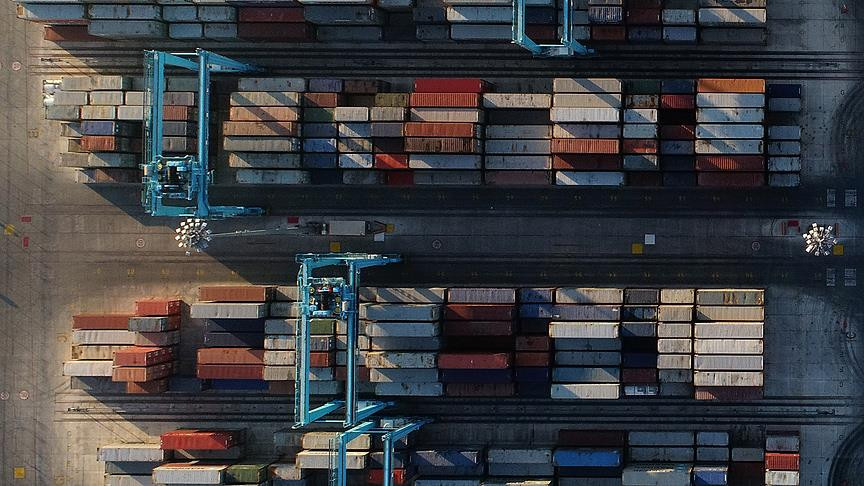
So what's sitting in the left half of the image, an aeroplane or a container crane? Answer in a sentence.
There is a container crane in the left half of the image.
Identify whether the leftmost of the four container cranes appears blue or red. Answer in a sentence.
The color of the leftmost of the four container cranes is blue.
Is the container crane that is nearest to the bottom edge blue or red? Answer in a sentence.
The container crane that is nearest to the bottom edge looks blue in the image.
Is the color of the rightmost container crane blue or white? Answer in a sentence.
From above, the rightmost container crane appears blue.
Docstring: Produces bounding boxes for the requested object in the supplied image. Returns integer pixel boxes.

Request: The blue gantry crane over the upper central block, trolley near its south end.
[136,46,267,217]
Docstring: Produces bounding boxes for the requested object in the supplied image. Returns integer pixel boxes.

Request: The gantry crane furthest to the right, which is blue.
[509,0,597,57]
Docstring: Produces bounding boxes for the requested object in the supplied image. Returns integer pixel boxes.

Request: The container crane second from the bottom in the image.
[293,254,401,435]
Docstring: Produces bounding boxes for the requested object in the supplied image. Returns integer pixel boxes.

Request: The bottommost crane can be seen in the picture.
[329,413,435,486]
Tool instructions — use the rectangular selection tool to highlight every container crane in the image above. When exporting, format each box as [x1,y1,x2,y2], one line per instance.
[509,0,597,57]
[293,254,401,435]
[329,413,435,486]
[136,46,267,217]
